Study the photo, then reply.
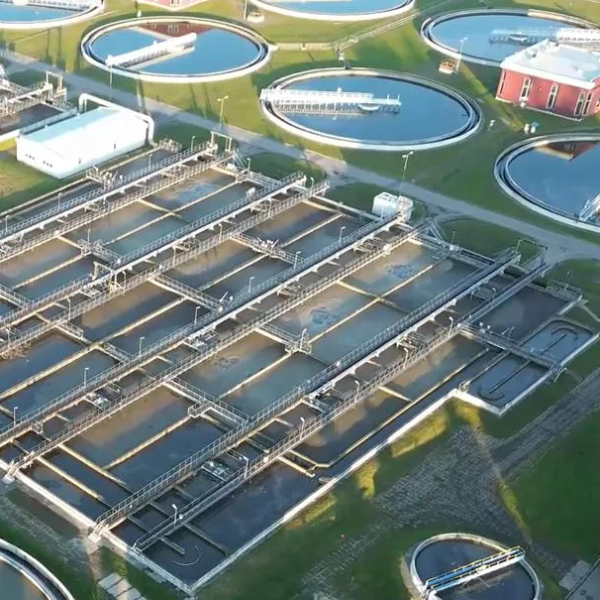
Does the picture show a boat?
No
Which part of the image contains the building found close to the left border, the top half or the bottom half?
top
